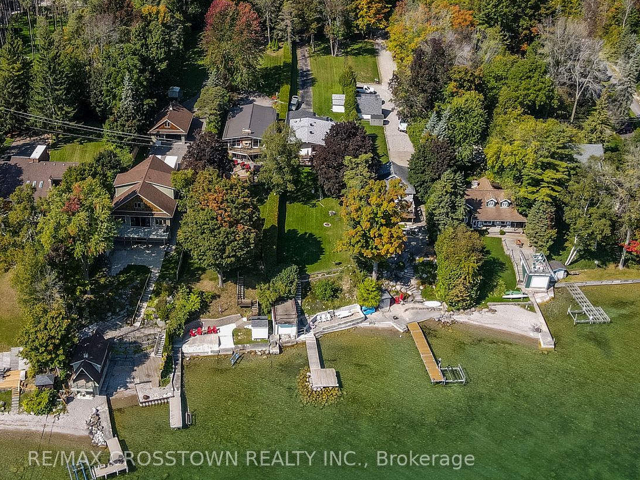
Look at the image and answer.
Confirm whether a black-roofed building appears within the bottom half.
Yes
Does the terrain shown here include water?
Yes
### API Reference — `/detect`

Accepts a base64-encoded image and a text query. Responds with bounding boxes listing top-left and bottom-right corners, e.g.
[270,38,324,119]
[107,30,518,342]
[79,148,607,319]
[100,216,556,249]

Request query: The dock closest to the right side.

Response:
[566,280,612,328]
